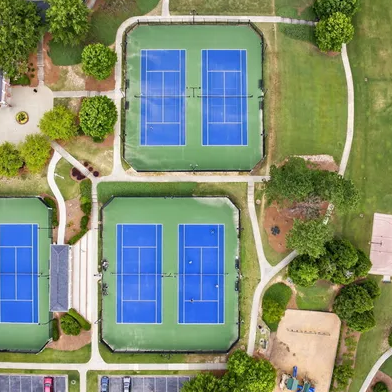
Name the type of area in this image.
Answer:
sports ground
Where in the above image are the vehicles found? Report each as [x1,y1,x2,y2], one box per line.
[41,377,52,392]
[121,377,130,392]
[99,376,109,392]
